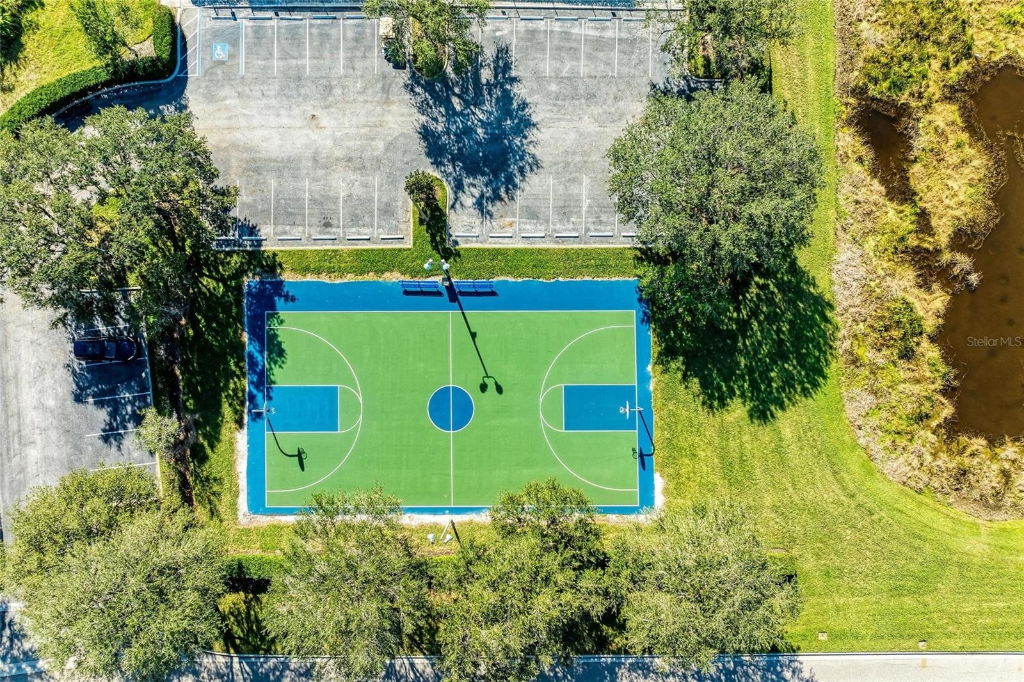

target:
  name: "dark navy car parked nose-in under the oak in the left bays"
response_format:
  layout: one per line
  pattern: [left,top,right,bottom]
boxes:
[76,335,139,363]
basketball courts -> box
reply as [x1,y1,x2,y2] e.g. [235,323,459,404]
[247,277,655,515]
